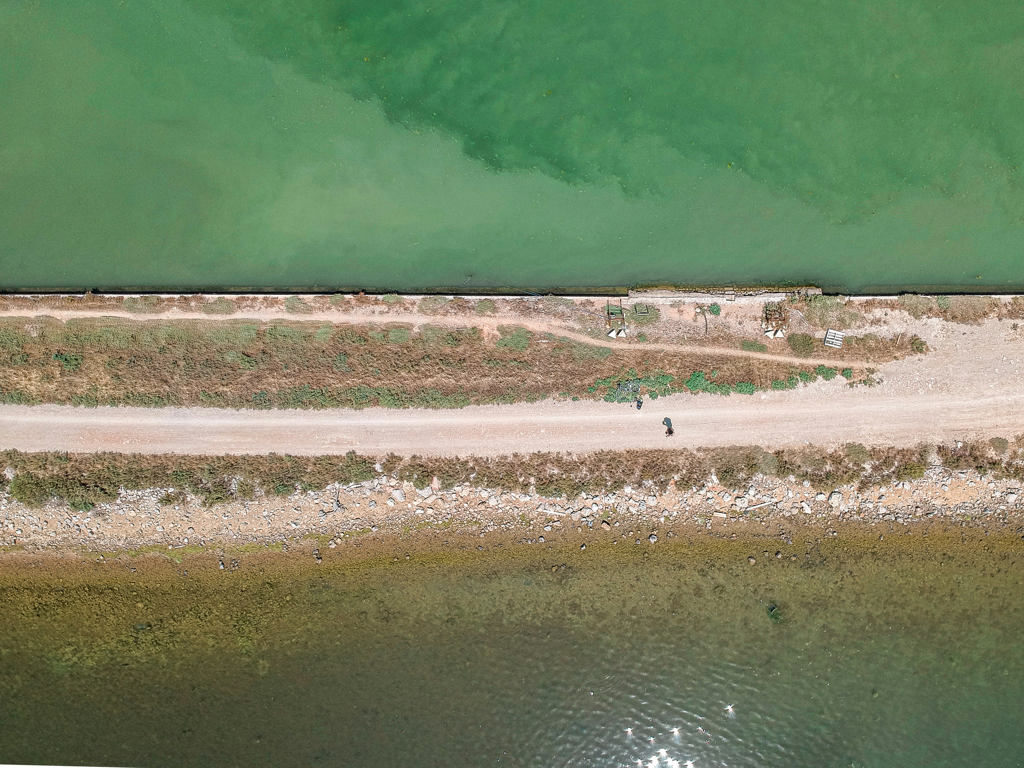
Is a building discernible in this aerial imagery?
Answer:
No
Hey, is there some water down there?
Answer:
Yes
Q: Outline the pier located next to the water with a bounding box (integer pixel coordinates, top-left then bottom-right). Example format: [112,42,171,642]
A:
[627,285,822,304]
